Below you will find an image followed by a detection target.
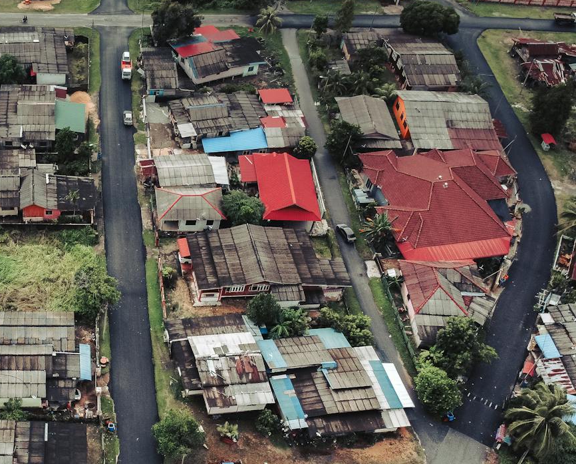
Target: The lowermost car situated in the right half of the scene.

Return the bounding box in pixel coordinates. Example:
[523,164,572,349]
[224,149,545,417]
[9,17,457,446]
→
[336,220,358,243]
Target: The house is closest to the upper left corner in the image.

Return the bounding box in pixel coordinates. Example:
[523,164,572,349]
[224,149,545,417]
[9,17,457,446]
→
[0,28,69,76]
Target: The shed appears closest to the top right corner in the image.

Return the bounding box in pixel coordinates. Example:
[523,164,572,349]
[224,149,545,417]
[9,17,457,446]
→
[516,38,576,85]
